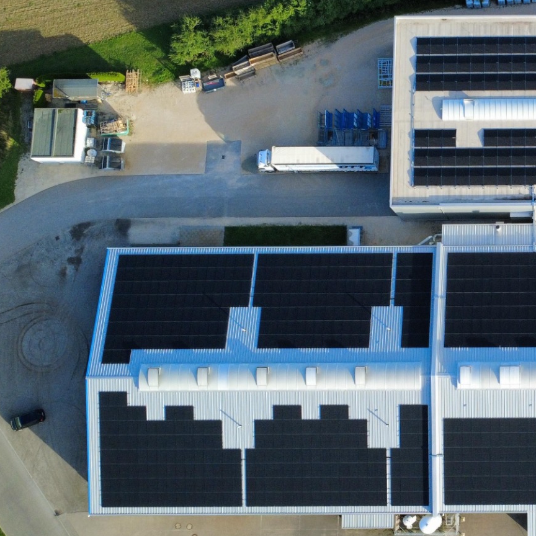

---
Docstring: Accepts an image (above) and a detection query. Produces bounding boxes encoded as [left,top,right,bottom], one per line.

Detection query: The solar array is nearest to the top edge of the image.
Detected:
[414,36,536,93]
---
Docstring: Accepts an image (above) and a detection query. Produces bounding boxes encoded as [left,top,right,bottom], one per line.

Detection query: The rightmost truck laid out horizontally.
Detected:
[257,145,383,173]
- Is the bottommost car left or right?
left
